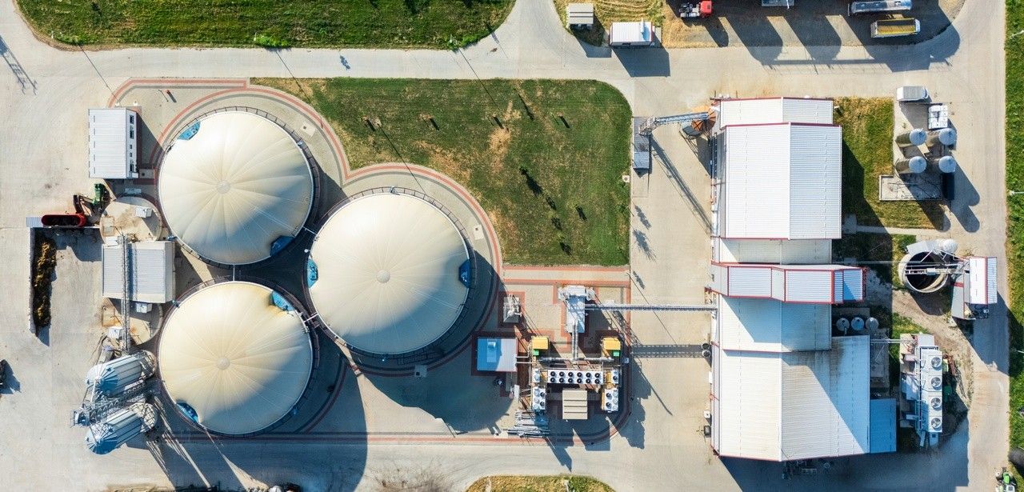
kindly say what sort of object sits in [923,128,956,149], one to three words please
silo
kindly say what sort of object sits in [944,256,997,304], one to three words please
house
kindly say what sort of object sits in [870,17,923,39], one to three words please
truck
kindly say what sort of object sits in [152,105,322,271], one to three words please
storage tank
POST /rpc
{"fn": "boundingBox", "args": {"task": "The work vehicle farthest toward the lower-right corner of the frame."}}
[994,464,1018,492]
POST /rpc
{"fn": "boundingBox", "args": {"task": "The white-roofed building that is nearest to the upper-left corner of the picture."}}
[89,108,142,179]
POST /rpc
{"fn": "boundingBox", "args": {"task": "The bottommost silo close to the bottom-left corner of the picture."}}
[82,403,159,456]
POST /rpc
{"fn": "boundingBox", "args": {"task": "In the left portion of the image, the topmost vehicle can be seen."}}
[73,185,108,218]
